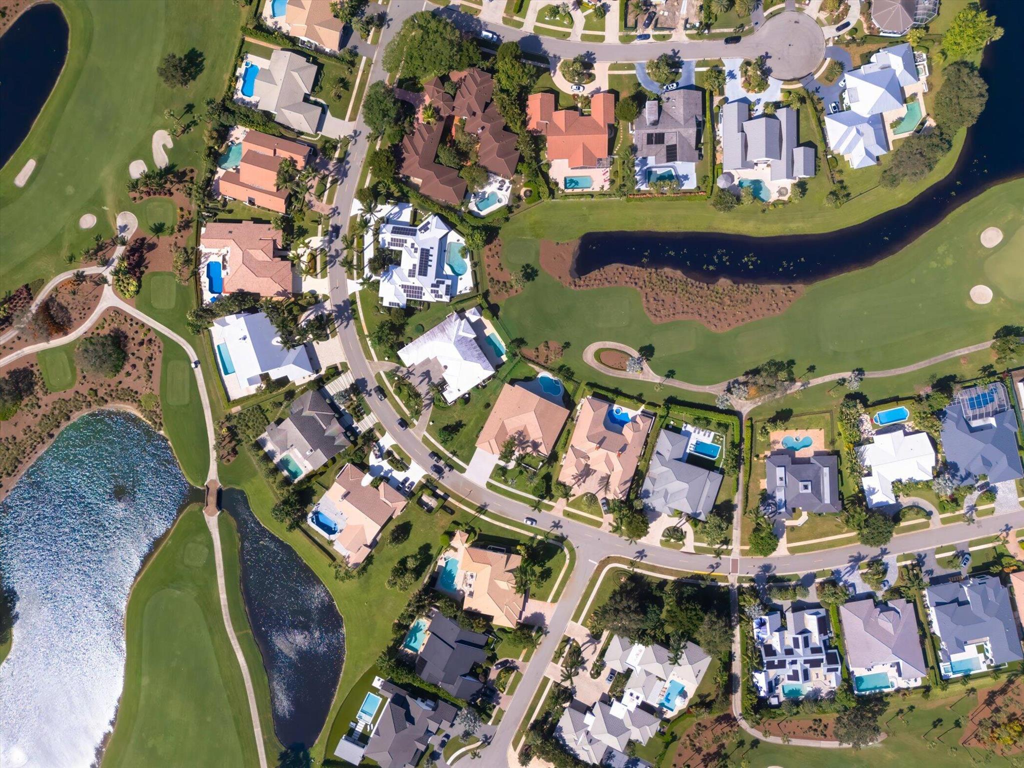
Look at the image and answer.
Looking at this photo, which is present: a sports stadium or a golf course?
golf course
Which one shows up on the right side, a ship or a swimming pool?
swimming pool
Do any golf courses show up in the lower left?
Yes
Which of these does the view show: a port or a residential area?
residential area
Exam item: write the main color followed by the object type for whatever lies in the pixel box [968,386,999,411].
blue swimming pool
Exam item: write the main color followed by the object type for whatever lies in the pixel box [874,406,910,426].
blue swimming pool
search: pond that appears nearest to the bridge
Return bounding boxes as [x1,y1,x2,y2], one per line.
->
[218,487,345,748]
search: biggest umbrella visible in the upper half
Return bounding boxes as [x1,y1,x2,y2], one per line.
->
[717,172,734,189]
